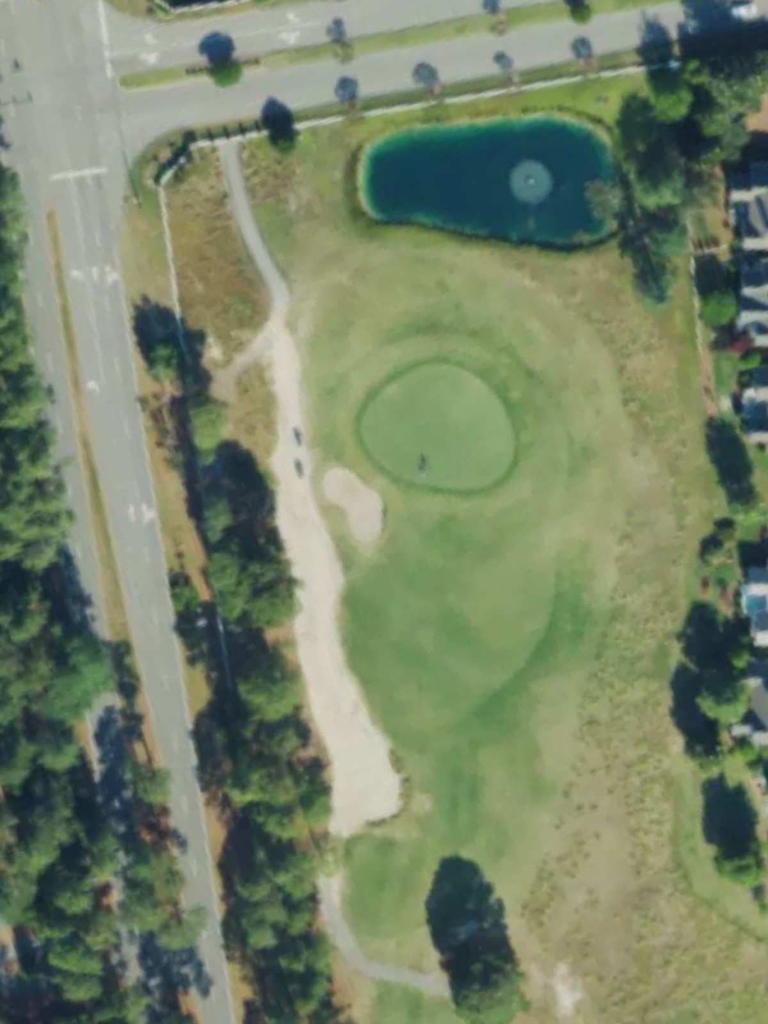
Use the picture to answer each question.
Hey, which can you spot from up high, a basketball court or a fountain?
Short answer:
fountain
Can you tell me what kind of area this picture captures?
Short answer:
golf course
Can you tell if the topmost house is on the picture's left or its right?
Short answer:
right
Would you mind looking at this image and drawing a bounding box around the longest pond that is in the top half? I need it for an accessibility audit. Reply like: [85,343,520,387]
[358,113,620,245]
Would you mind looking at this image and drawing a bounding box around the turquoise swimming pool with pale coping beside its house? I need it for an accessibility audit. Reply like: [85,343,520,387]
[740,589,768,626]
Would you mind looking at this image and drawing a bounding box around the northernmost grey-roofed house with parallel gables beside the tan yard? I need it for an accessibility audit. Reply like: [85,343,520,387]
[728,170,768,257]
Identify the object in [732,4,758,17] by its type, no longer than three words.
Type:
vehicle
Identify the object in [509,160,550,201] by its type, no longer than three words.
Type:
fountain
